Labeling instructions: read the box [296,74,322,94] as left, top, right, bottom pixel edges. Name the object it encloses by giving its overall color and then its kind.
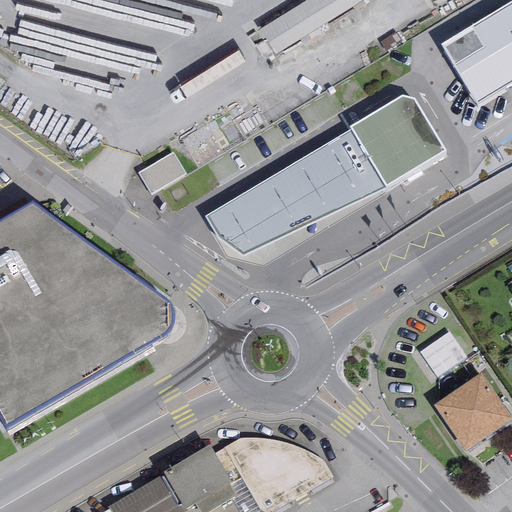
white vehicle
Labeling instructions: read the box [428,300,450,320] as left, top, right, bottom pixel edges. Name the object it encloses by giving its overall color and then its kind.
white car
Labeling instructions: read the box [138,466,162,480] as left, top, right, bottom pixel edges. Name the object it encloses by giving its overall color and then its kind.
black vehicle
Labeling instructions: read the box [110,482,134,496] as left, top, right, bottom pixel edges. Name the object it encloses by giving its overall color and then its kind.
white vehicle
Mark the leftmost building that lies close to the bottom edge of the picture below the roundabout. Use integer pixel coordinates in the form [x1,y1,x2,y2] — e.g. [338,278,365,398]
[104,474,182,512]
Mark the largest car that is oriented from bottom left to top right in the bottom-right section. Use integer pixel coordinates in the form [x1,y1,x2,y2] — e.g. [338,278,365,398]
[436,372,456,389]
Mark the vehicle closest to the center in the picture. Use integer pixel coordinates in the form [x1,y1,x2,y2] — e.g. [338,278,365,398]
[250,298,271,314]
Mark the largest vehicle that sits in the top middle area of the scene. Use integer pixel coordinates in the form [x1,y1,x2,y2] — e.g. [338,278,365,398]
[170,49,246,106]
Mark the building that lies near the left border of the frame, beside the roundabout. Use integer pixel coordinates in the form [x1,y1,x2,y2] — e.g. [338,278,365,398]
[0,197,175,434]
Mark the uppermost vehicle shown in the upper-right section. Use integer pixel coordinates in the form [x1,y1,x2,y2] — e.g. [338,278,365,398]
[389,50,412,66]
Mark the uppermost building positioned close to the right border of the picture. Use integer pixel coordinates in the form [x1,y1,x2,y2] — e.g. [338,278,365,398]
[441,2,512,109]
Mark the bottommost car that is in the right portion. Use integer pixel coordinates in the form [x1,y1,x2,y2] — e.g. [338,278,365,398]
[370,486,384,505]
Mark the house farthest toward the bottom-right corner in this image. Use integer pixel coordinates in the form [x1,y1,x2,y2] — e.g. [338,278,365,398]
[434,372,512,454]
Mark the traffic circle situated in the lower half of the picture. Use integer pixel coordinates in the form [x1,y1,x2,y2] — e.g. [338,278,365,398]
[154,290,334,414]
